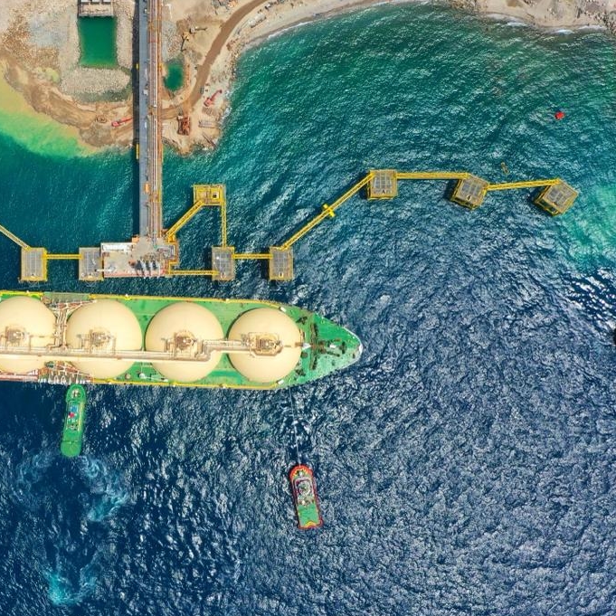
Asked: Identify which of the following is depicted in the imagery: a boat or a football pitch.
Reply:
boat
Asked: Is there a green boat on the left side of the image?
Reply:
Yes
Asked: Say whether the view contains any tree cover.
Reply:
No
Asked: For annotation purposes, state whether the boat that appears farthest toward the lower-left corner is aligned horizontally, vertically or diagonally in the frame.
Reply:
vertically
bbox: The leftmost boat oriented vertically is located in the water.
[61,385,86,457]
